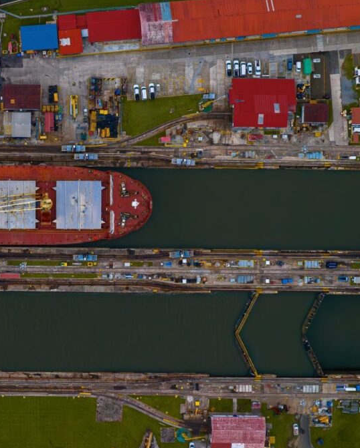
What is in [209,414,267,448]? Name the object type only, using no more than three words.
shed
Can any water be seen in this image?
Yes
